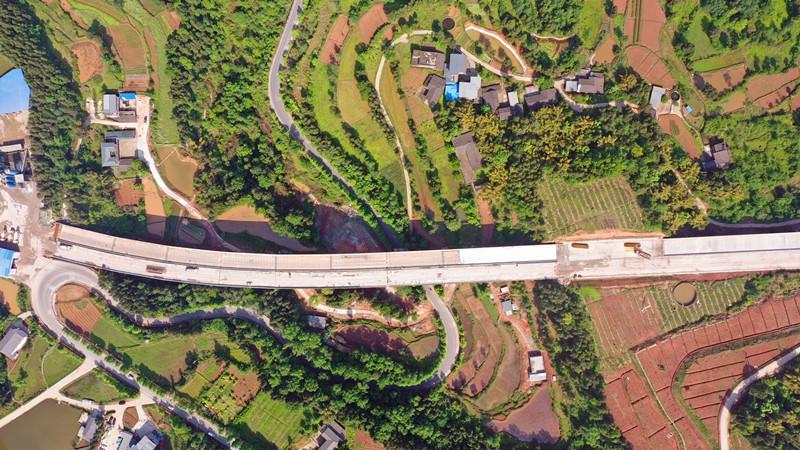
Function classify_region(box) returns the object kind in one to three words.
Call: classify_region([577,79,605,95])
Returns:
house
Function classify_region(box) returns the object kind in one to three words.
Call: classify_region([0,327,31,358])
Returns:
house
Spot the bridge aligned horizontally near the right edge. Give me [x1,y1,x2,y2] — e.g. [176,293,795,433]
[664,232,800,255]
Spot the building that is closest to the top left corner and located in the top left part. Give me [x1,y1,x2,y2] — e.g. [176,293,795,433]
[0,68,37,116]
